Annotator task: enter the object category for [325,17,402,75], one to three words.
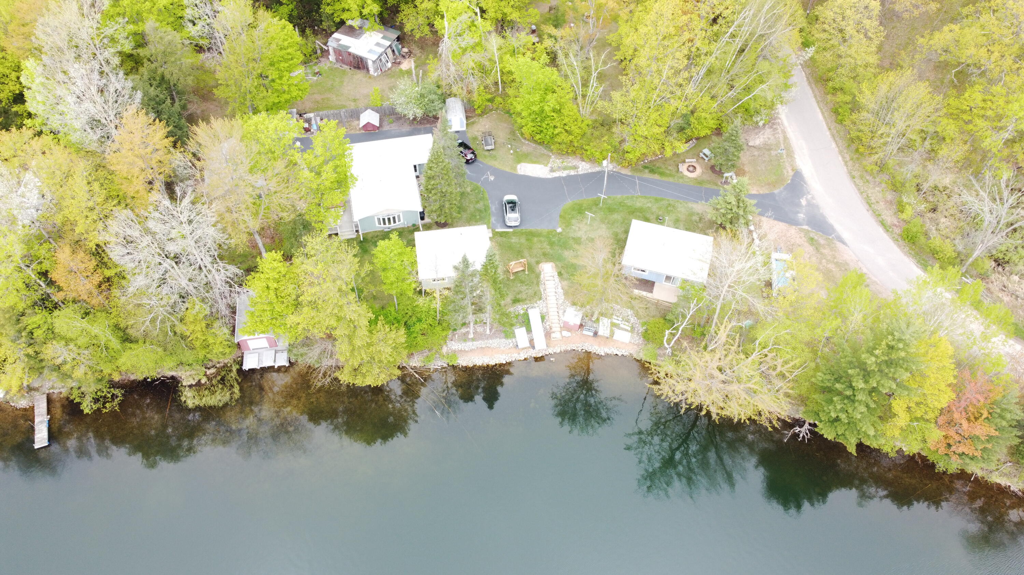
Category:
shed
